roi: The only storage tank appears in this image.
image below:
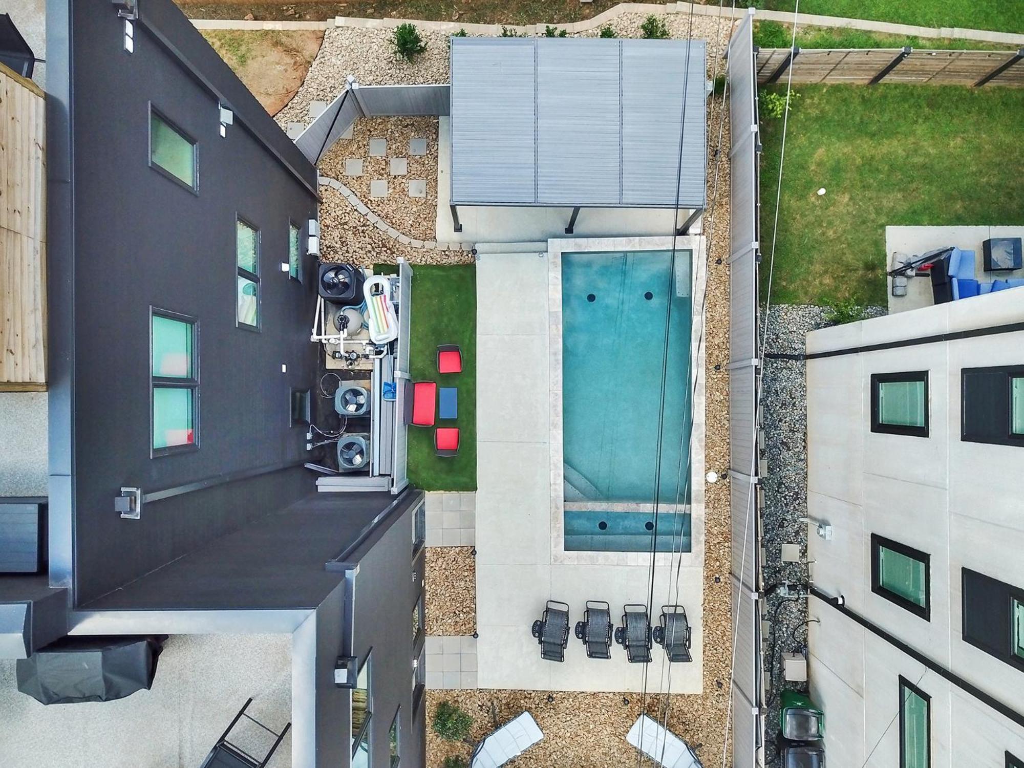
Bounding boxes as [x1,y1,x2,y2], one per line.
[337,307,366,338]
